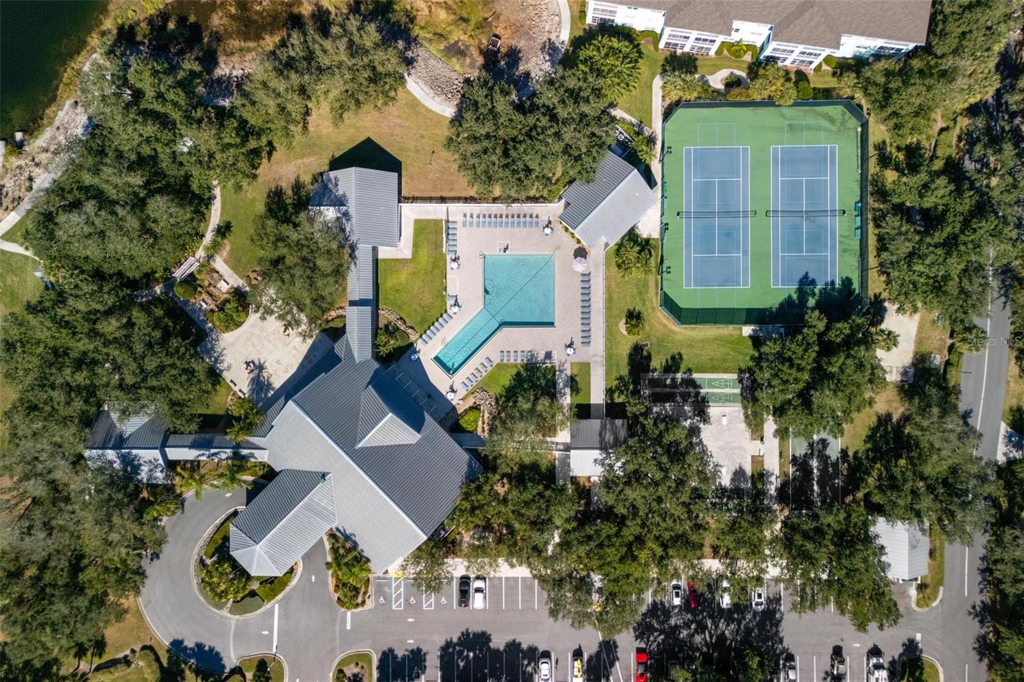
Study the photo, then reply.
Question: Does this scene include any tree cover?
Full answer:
Yes, there's tree cover in this view.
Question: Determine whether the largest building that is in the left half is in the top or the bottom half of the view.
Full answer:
Seen from above, the largest building that is in the left half lies in the bottom half of the view.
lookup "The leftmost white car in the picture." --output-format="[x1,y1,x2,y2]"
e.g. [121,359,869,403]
[472,577,486,607]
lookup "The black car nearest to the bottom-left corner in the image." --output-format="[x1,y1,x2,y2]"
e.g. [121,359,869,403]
[457,577,471,607]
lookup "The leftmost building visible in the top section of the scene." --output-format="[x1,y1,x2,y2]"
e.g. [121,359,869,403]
[308,166,398,248]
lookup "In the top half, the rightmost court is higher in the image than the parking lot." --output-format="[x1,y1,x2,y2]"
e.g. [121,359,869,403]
[760,106,860,325]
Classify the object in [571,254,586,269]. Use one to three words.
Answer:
umbrella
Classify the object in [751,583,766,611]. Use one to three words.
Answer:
car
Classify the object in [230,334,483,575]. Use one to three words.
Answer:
building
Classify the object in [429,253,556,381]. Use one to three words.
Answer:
swimming pool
